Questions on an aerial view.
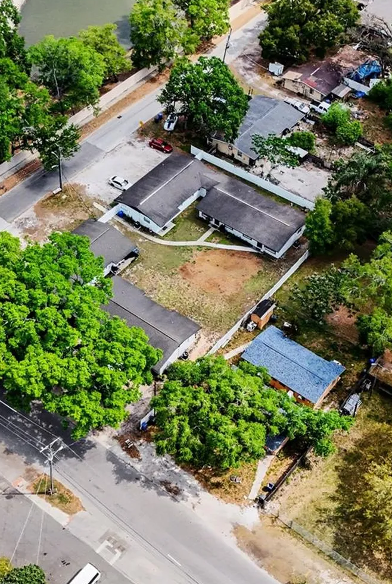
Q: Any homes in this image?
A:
Yes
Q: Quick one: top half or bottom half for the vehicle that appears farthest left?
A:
bottom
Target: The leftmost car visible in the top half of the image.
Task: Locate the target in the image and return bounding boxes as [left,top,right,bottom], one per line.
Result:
[106,176,130,188]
